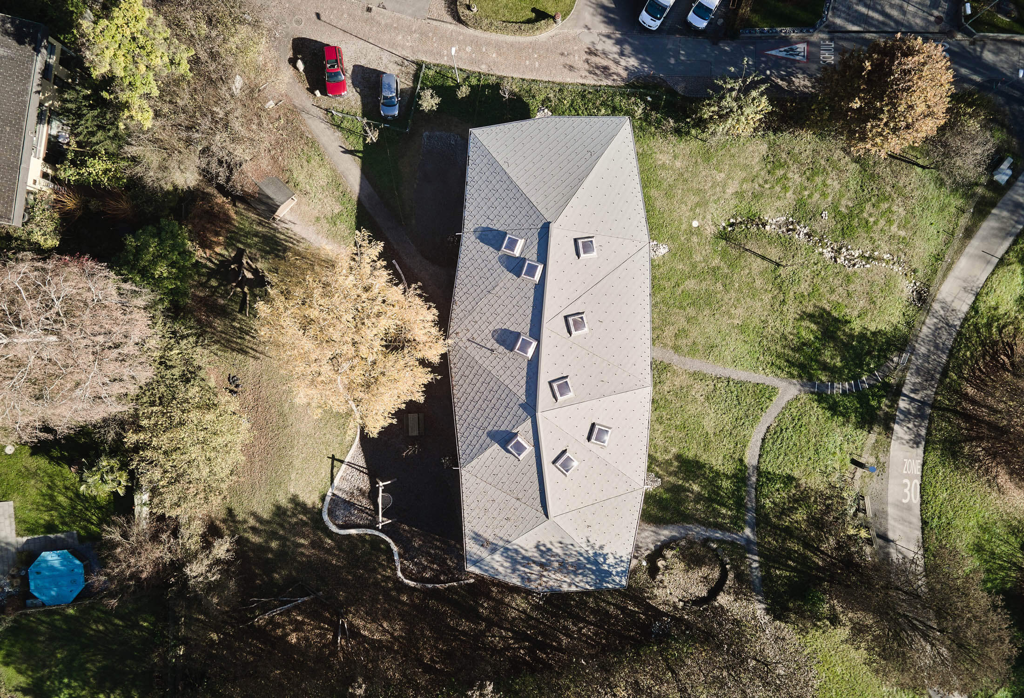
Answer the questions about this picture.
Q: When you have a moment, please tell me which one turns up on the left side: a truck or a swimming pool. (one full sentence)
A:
There is a swimming pool on the left side.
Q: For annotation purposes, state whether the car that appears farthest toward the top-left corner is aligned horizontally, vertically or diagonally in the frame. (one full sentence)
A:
The car that appears farthest toward the top-left corner has been laid out vertically relative to the frame.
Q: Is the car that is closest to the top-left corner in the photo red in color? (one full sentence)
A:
Yes, red is the color of the car that is closest to the top-left corner.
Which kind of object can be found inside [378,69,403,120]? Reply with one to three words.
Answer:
car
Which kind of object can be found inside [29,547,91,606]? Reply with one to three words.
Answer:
swimming pool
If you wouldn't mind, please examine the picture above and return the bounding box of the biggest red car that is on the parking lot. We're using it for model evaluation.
[323,42,348,97]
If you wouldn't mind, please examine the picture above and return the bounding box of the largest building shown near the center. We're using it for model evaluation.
[446,114,656,600]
